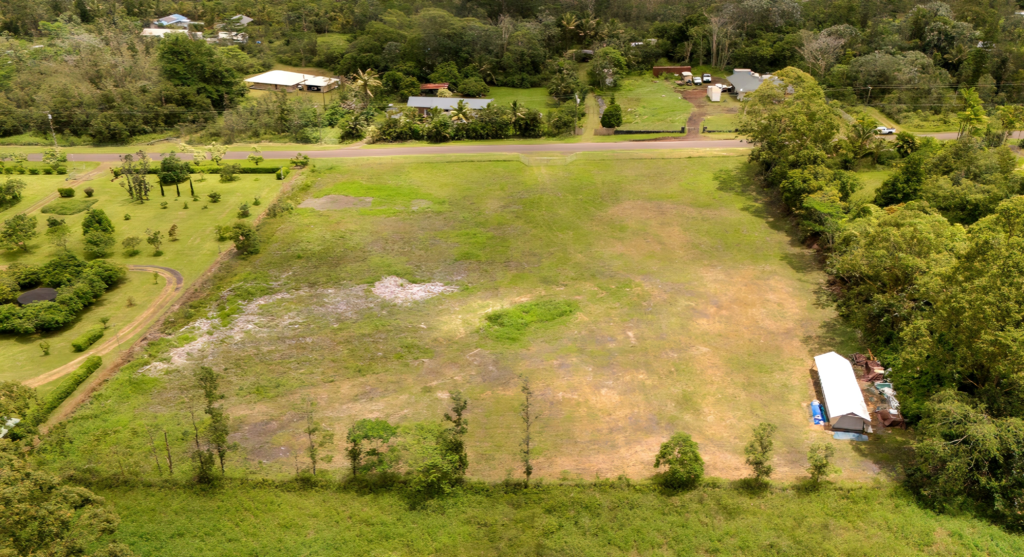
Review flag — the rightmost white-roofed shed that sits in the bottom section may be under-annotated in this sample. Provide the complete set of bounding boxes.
[813,351,870,432]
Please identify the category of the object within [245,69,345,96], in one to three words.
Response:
house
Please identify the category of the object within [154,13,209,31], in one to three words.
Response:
house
